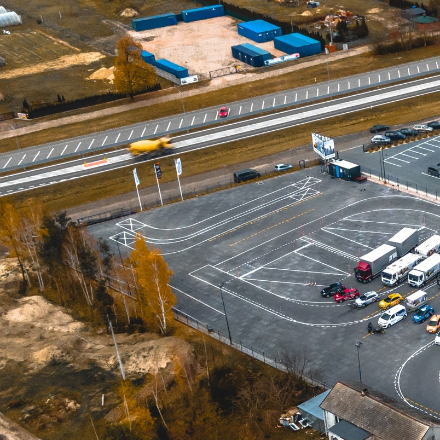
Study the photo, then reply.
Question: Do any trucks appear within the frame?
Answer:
Yes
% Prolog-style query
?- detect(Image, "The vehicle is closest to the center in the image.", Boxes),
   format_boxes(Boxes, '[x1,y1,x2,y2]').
[232,167,259,181]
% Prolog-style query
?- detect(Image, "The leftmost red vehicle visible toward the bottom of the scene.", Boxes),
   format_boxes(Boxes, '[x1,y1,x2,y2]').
[334,285,361,301]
